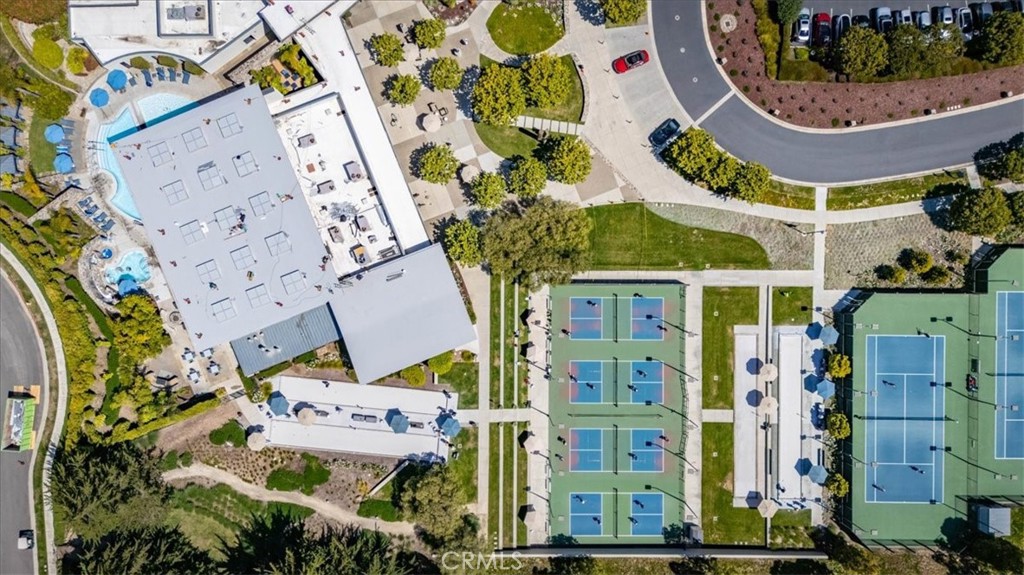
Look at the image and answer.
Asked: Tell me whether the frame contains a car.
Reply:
Yes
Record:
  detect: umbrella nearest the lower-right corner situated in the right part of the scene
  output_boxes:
[807,464,828,483]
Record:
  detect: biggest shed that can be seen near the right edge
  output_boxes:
[972,506,1010,542]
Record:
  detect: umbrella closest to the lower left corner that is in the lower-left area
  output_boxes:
[247,431,267,450]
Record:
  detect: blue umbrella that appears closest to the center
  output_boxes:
[441,417,462,436]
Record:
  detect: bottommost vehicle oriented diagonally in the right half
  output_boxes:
[647,117,682,145]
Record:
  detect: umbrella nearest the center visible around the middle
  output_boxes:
[525,307,546,327]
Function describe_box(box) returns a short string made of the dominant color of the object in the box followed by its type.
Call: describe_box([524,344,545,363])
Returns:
white umbrella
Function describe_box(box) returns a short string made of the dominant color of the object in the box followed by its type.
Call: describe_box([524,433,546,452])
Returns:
white umbrella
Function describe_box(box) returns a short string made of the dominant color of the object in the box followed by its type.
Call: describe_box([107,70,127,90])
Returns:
blue umbrella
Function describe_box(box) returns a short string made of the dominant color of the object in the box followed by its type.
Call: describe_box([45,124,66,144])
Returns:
blue umbrella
